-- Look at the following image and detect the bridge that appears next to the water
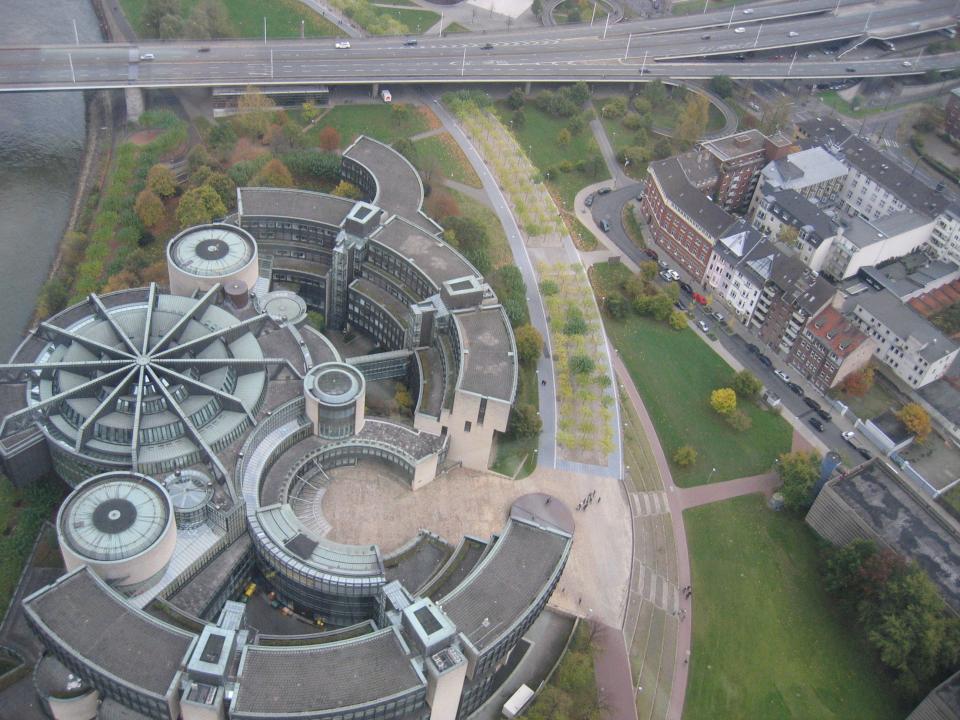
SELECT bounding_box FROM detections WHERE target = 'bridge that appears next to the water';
[0,0,960,144]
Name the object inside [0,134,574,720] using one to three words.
building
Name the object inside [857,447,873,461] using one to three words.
car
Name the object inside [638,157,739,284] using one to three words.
building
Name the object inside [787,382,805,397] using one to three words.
car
